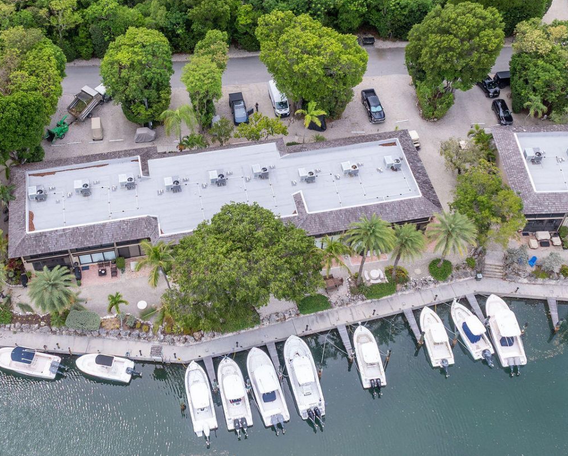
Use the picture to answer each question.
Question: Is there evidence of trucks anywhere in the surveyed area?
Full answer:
Yes, looking at the shot, I can spot a truck.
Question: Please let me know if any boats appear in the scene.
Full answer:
Yes, a boat appears in the view.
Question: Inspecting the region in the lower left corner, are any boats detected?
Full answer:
Yes, I can see a boat in the lower left corner.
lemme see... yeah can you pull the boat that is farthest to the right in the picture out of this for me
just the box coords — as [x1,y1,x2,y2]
[487,296,530,379]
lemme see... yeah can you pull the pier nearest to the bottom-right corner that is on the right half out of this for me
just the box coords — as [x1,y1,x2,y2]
[546,298,562,332]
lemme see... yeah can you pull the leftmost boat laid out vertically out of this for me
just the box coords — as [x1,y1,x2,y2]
[185,362,217,446]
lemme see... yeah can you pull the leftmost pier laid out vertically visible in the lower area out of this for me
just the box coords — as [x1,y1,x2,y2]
[203,354,219,388]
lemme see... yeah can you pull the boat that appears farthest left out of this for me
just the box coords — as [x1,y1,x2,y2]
[0,346,73,381]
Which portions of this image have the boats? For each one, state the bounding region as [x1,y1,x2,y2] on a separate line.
[248,349,290,439]
[0,346,73,381]
[354,326,386,401]
[487,296,530,379]
[219,359,253,443]
[76,355,144,386]
[420,308,455,377]
[452,302,493,369]
[286,335,327,432]
[185,362,217,446]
